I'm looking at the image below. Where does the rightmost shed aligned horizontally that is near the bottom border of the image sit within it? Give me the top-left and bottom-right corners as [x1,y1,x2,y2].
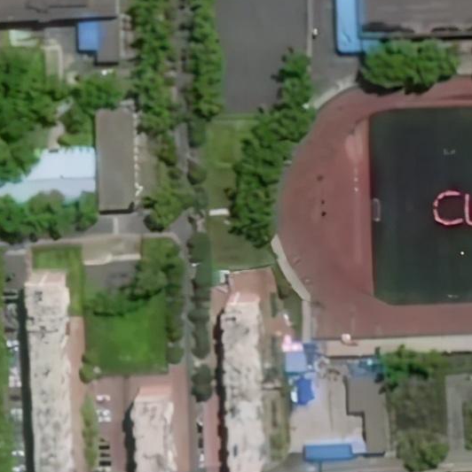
[304,442,353,460]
